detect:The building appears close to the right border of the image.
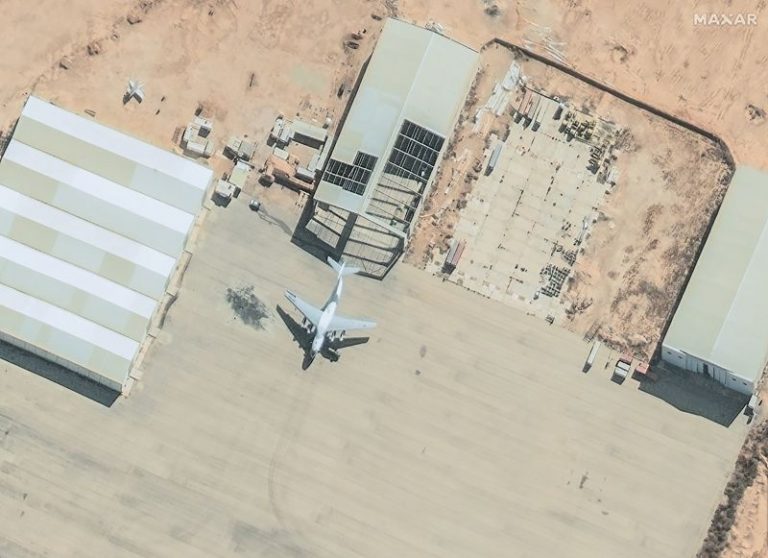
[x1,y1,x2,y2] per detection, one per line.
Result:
[663,164,768,396]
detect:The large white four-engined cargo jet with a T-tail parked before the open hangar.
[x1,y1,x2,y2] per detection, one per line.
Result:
[286,256,377,362]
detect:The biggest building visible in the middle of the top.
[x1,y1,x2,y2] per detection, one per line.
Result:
[314,17,479,249]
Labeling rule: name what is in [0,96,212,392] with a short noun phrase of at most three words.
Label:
hangar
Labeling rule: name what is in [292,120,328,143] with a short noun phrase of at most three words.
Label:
shed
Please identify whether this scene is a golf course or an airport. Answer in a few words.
airport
